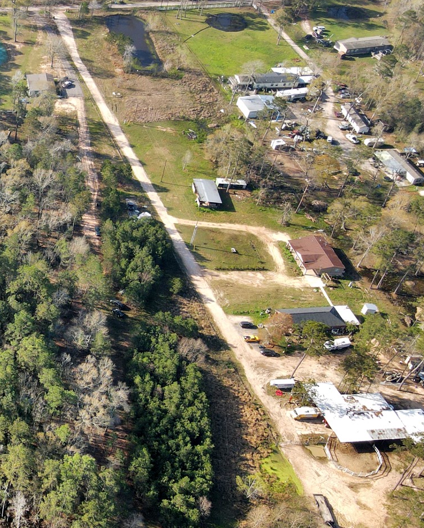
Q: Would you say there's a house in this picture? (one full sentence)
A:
Yes, the frame does contain a house.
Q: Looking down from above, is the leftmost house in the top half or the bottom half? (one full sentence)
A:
The leftmost house is in the top half of the image.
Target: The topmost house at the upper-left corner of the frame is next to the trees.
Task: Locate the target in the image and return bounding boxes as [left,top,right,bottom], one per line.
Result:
[27,73,55,98]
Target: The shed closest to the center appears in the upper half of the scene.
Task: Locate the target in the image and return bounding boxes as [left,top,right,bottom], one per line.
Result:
[191,179,222,208]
